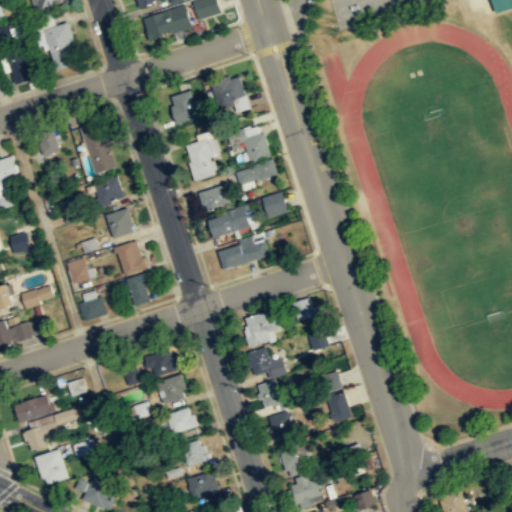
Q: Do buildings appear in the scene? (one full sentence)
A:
Yes, this view includes a building.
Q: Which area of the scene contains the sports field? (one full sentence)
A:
The sports field is in the right part of the image.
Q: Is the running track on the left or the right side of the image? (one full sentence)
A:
The running track appears in the right half of the scene.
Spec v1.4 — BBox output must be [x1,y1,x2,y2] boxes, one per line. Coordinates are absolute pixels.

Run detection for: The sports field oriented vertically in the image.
[363,42,512,388]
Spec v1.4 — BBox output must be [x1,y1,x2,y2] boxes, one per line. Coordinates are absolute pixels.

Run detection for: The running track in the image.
[324,24,512,406]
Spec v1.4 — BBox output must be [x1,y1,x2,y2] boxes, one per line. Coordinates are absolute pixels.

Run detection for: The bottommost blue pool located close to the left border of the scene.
[22,274,47,290]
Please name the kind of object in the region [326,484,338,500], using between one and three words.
vehicle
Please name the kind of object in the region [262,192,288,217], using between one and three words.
building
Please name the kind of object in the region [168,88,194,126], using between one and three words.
house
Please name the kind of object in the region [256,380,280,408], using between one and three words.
house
